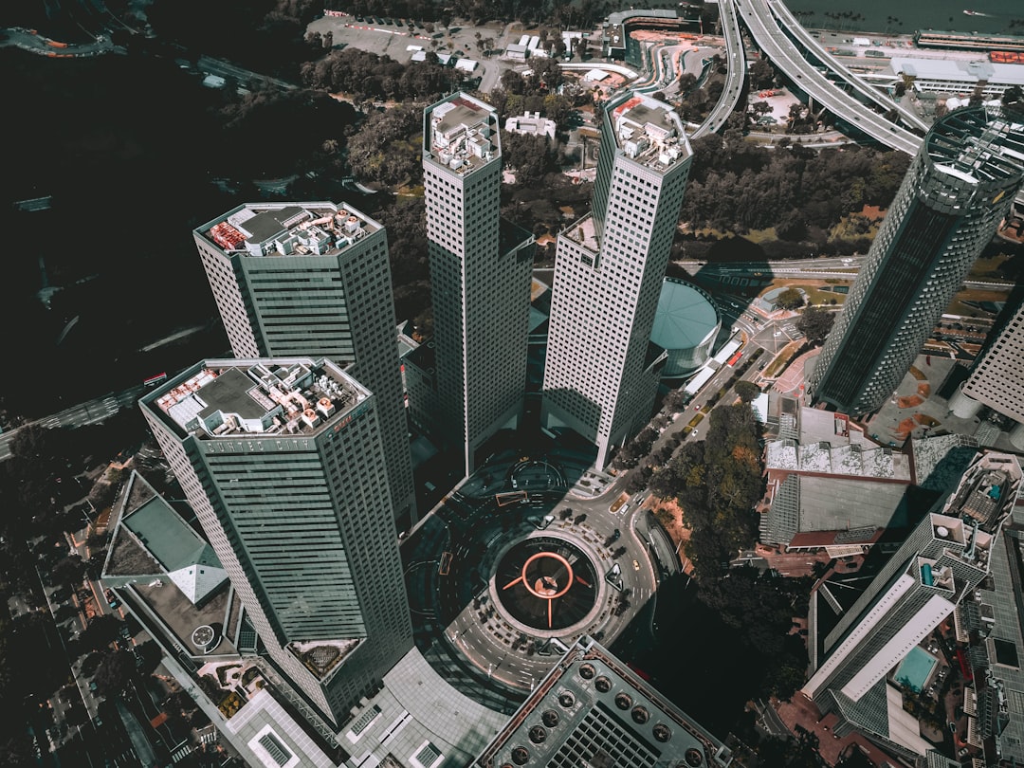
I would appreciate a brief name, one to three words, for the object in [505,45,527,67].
shed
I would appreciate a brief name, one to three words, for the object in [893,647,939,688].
swimming pool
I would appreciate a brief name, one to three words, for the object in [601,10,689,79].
building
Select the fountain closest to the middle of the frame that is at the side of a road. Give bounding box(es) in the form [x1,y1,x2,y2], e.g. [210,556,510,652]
[488,527,607,638]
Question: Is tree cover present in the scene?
Yes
